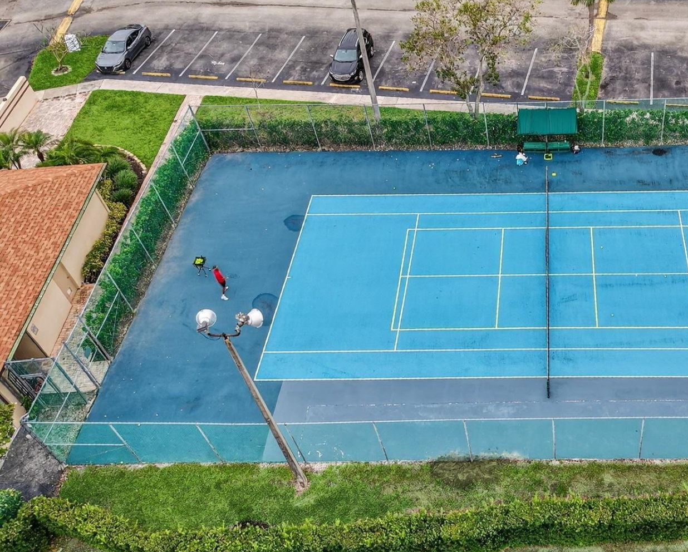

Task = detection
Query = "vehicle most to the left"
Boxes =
[91,22,151,73]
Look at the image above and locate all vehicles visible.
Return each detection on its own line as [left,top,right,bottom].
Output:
[326,26,374,86]
[91,22,151,73]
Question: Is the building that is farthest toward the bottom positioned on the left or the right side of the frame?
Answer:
left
